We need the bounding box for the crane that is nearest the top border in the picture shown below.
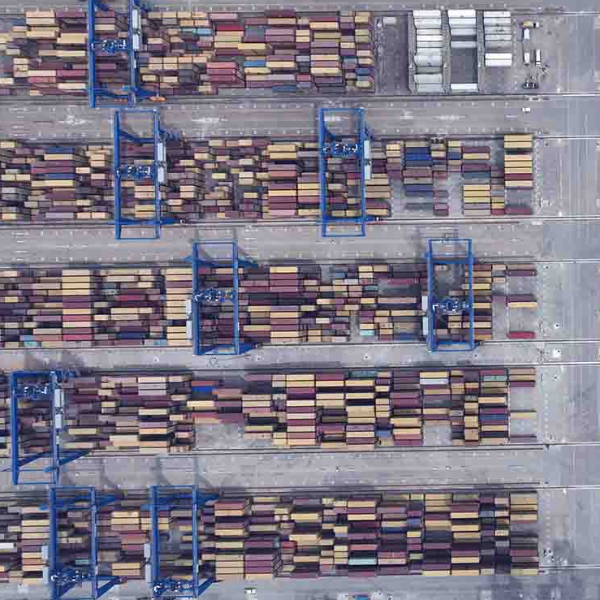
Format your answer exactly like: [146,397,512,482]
[86,0,164,108]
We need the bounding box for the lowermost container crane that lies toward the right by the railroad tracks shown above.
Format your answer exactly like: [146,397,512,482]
[420,238,482,352]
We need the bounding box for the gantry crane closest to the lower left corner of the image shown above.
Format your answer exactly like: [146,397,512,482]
[42,485,125,600]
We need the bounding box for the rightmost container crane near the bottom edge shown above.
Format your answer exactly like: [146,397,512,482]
[143,485,220,600]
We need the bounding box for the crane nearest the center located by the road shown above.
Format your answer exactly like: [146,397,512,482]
[185,240,260,356]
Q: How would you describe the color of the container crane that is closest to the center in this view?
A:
blue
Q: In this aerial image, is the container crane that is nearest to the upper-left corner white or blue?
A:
blue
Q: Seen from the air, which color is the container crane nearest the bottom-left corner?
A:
blue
